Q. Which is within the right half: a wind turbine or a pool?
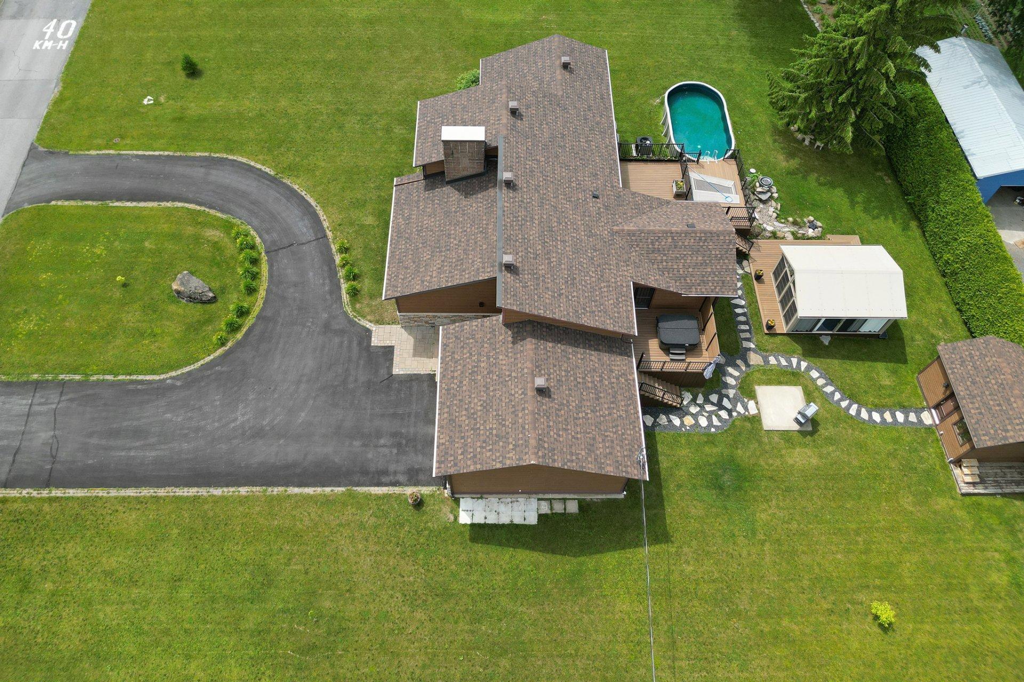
pool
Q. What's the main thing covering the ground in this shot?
grass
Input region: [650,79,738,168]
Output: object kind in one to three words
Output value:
swimming pool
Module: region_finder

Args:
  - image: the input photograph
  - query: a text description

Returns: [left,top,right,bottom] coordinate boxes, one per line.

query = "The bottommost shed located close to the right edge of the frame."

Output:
[920,337,1024,465]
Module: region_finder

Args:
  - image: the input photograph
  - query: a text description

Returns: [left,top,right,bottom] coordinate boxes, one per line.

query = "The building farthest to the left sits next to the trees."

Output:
[382,35,740,504]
